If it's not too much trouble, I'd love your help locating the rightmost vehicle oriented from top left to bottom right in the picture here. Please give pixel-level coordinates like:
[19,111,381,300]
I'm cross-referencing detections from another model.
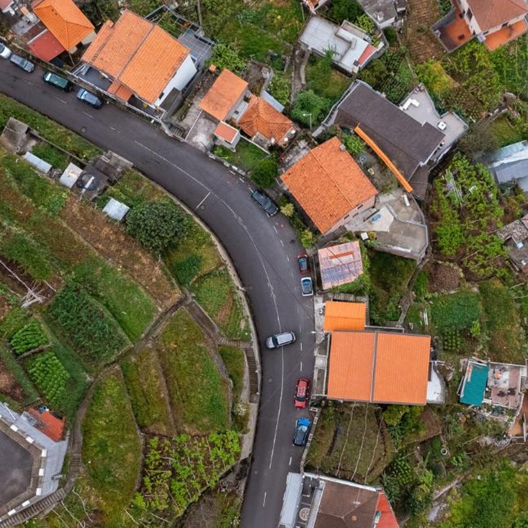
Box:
[250,187,278,216]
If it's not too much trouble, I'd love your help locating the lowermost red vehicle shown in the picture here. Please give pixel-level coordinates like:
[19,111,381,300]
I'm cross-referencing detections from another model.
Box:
[295,378,308,408]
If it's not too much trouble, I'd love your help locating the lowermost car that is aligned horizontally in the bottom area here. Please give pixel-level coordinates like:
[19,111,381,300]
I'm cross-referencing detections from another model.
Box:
[265,333,295,347]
